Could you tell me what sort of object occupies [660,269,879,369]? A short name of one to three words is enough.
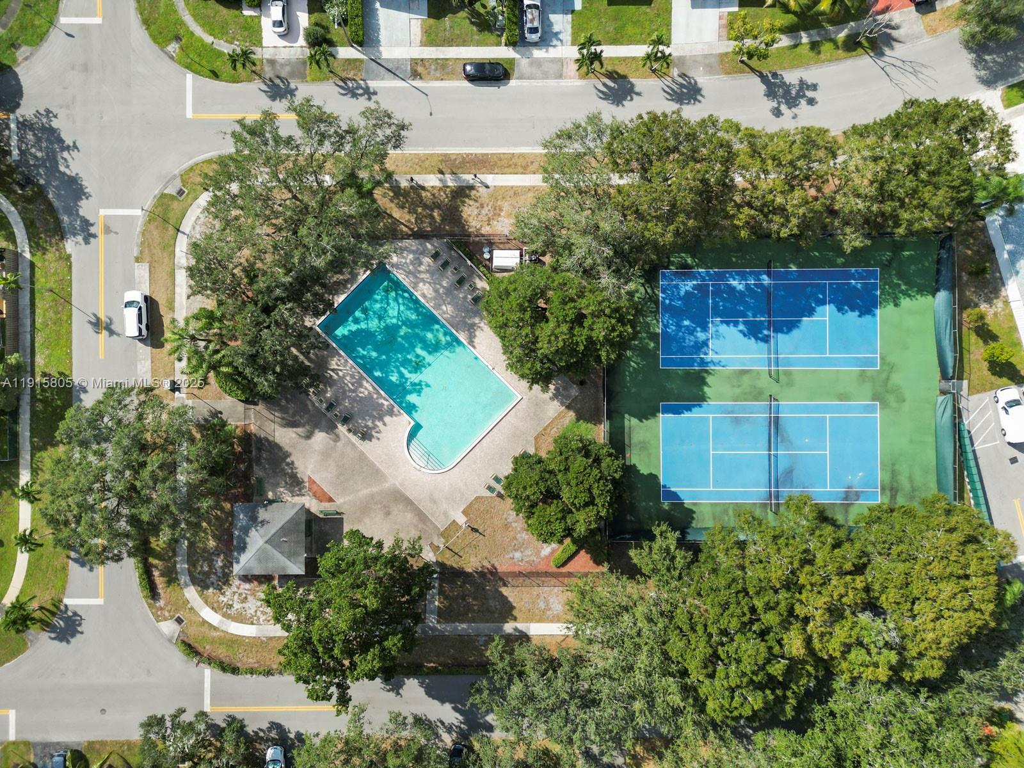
tennis court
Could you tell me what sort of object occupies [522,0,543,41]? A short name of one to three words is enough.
car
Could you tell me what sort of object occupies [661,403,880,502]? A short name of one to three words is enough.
tennis court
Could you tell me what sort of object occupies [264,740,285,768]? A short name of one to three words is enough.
car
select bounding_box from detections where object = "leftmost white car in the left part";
[120,290,146,337]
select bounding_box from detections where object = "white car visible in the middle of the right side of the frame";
[993,388,1024,445]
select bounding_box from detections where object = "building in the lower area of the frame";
[233,501,310,575]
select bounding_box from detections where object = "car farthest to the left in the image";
[52,744,77,768]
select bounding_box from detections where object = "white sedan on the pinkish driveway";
[267,0,289,37]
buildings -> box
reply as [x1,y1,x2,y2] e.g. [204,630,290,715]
[979,208,1024,367]
[233,501,310,575]
[495,254,523,277]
